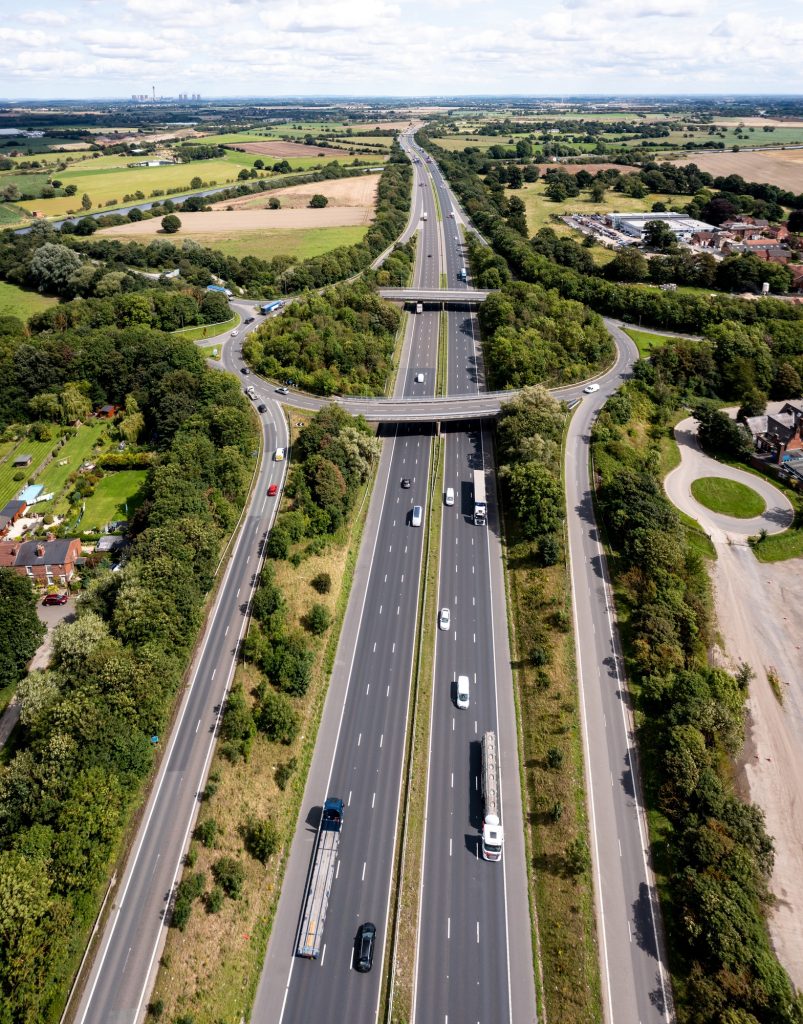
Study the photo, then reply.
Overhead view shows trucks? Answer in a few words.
Yes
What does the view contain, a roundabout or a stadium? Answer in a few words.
roundabout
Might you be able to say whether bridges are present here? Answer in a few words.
Yes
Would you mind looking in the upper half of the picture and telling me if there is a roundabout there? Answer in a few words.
Yes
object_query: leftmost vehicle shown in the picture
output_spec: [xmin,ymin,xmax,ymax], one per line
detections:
[41,594,65,606]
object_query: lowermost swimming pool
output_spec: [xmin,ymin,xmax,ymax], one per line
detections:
[16,482,43,500]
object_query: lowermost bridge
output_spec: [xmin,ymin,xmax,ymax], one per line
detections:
[355,392,507,439]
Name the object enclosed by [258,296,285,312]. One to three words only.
vehicle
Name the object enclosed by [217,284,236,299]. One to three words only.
vehicle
